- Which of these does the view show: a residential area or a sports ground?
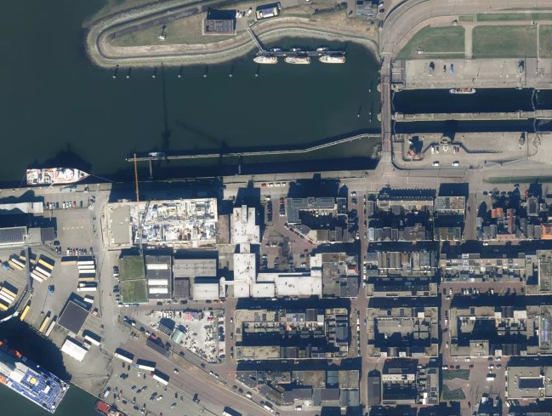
residential area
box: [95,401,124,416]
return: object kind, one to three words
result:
boat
